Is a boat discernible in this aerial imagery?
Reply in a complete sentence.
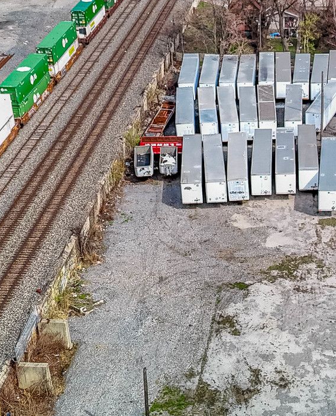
No, no boat is visible in the view.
